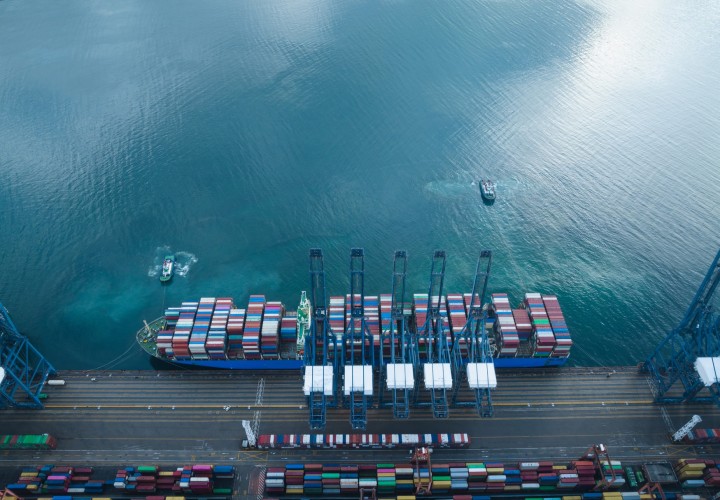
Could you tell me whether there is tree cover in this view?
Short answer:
No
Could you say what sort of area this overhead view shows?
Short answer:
port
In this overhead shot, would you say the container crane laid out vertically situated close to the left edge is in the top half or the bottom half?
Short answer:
bottom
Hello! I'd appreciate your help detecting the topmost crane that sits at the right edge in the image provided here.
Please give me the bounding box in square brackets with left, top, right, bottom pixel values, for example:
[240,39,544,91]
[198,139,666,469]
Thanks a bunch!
[643,252,720,409]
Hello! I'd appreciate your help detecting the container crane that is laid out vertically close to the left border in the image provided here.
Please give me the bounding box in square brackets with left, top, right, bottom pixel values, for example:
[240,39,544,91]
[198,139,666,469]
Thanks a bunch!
[0,282,61,407]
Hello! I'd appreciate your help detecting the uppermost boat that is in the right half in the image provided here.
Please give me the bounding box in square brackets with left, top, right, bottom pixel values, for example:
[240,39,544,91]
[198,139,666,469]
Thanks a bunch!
[480,183,496,203]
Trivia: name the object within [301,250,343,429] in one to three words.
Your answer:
container crane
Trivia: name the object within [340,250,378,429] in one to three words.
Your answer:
container crane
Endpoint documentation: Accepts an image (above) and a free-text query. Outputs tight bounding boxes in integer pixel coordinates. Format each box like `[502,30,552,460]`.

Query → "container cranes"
[0,282,61,407]
[340,250,378,429]
[581,444,622,493]
[453,248,500,418]
[379,250,416,418]
[410,448,432,500]
[643,252,720,409]
[631,481,669,500]
[413,249,455,418]
[301,250,343,429]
